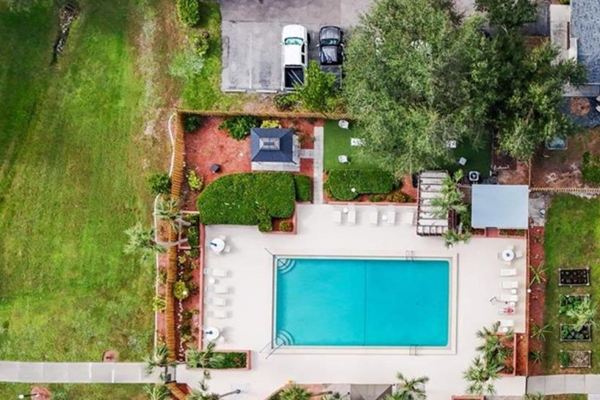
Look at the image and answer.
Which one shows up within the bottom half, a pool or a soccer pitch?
pool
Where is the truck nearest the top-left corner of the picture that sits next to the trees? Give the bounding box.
[278,24,306,88]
